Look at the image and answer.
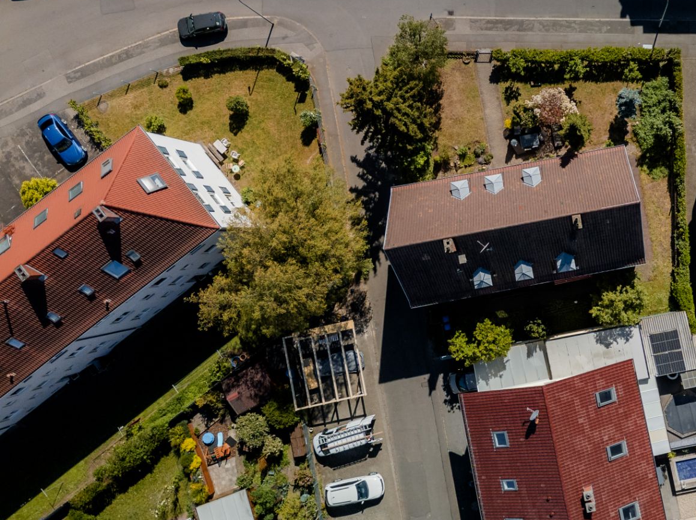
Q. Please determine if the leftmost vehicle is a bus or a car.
car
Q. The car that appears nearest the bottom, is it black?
No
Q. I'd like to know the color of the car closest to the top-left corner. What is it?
blue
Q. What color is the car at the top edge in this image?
black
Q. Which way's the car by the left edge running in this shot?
at an angle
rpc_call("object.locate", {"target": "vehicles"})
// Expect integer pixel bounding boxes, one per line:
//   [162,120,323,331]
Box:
[33,115,83,168]
[322,475,383,508]
[173,12,225,38]
[312,421,381,459]
[449,374,478,397]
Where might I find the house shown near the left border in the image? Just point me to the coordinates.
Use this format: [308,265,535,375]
[0,125,259,412]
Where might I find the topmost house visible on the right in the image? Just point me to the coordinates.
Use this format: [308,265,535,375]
[383,144,645,308]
